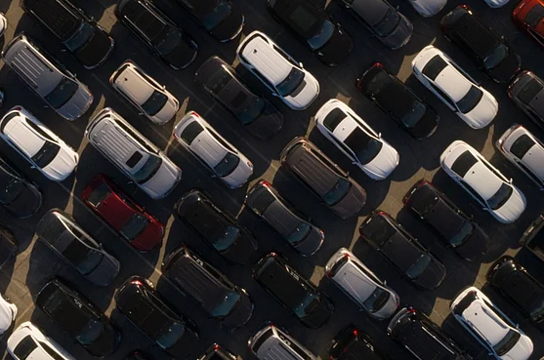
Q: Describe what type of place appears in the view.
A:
parking lot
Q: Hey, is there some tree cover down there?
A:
No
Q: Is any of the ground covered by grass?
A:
No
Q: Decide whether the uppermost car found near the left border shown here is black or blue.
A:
black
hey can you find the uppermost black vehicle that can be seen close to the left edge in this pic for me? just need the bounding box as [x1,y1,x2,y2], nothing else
[18,0,115,66]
